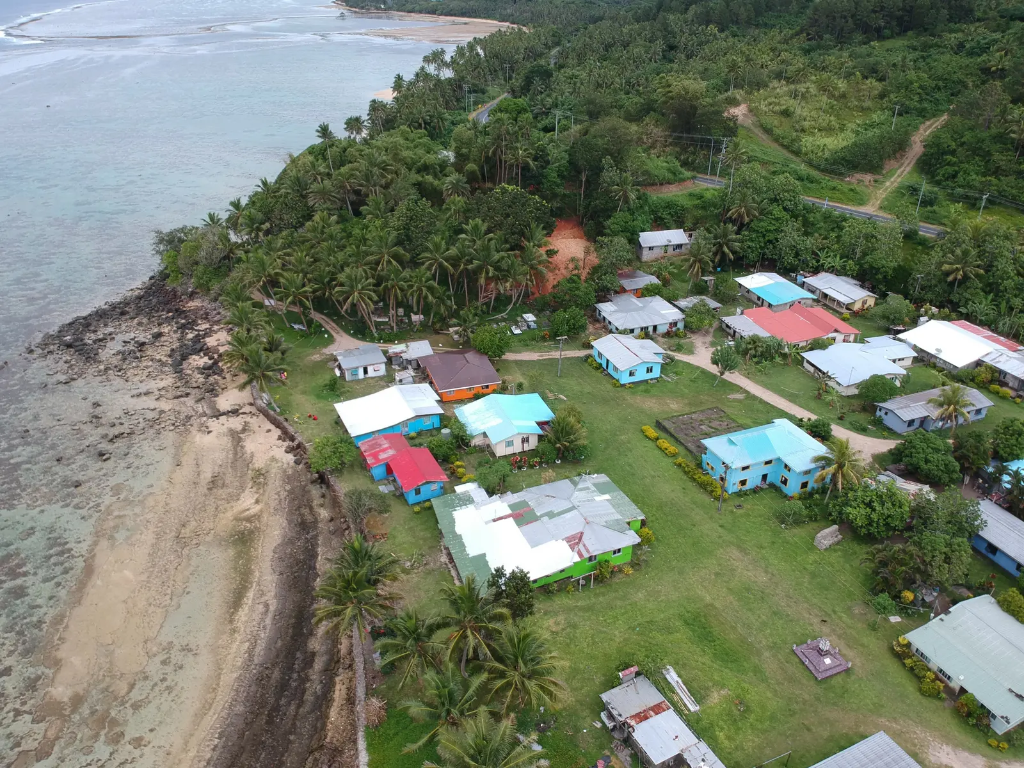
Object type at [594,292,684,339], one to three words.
house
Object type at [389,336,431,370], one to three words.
shed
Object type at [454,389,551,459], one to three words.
house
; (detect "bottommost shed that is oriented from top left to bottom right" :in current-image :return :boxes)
[599,674,727,768]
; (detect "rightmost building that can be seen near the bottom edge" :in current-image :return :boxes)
[904,591,1024,737]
